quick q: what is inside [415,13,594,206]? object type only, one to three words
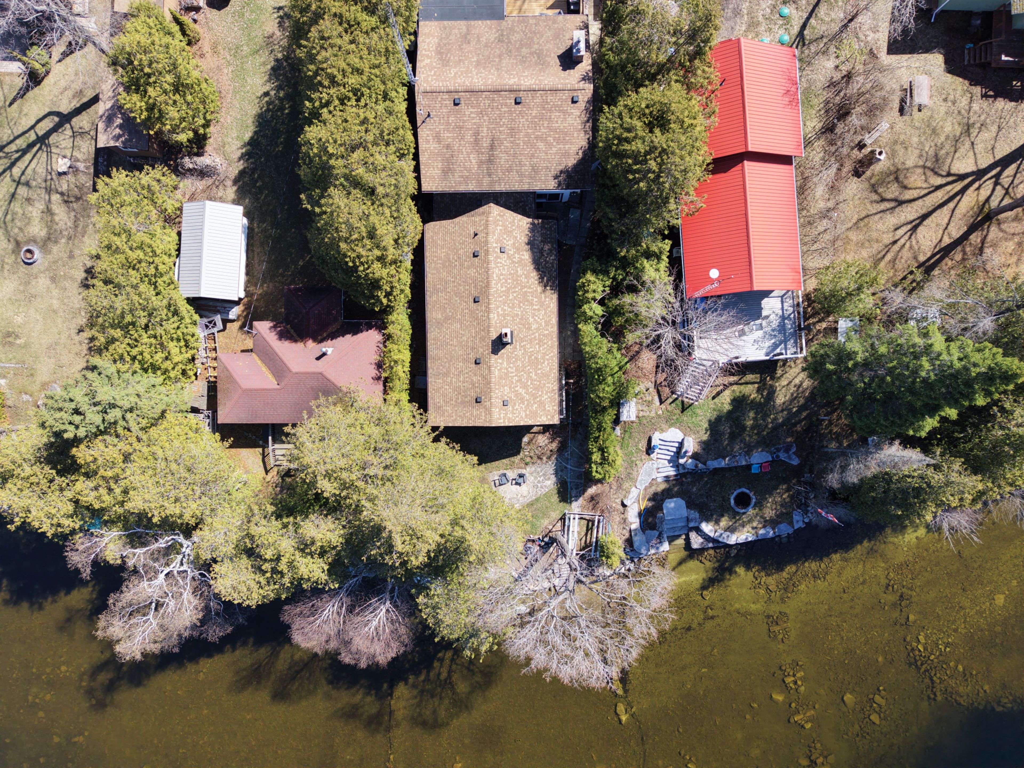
house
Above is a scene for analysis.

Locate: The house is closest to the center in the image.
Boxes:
[425,193,560,426]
